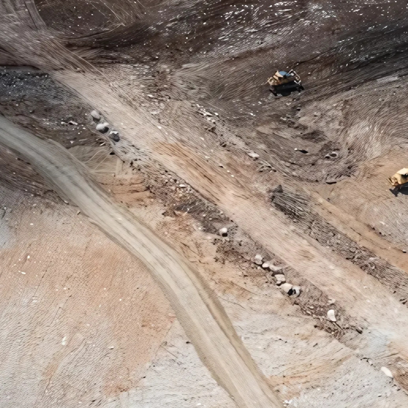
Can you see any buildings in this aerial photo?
No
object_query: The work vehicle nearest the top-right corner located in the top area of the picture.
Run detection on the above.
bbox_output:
[269,71,303,94]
